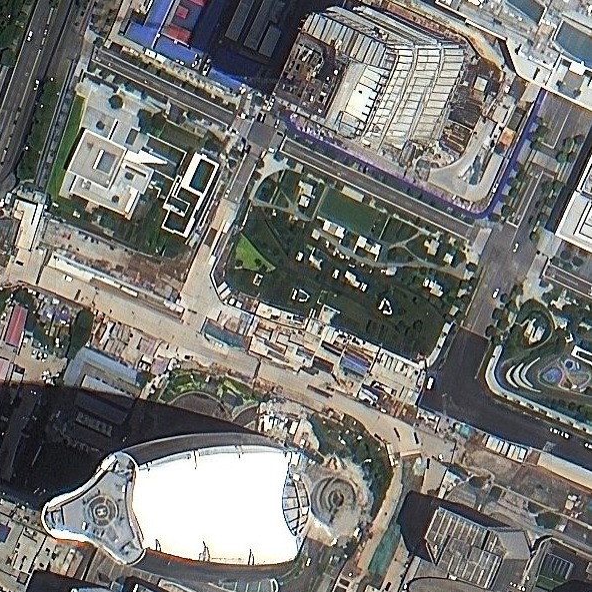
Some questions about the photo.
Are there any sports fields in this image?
Yes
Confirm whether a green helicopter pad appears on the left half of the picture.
No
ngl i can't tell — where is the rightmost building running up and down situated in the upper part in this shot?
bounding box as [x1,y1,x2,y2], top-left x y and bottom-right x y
[555,159,592,251]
